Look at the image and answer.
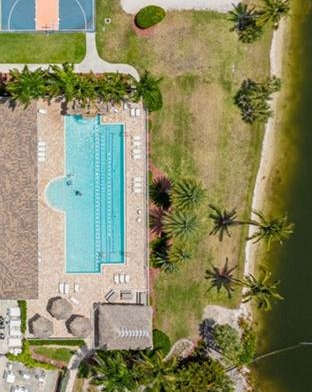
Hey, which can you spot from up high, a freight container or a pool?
pool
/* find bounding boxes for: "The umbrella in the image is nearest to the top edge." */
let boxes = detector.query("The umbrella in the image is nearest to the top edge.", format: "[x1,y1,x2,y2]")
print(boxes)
[49,297,73,321]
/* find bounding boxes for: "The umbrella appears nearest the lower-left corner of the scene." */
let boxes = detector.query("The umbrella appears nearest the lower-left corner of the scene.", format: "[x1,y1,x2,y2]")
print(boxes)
[29,315,54,339]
